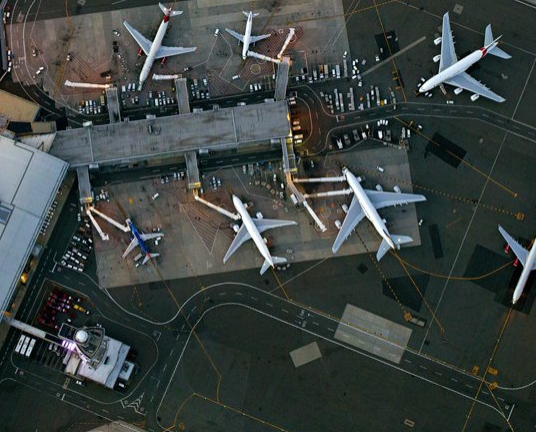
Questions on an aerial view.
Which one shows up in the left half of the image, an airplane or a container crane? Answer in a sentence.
Visible in the left half of the image is an airplane.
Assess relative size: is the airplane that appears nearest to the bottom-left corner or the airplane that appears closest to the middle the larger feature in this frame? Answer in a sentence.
The airplane that appears nearest to the bottom-left corner is smaller than the airplane that appears closest to the middle.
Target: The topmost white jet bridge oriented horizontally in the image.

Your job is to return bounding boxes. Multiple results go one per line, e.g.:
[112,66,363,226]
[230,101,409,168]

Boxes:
[246,51,282,65]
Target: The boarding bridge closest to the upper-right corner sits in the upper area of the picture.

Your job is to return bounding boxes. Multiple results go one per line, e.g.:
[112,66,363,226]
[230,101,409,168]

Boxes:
[277,27,295,61]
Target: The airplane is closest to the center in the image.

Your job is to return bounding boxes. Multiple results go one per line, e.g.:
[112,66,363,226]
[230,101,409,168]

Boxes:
[224,195,297,274]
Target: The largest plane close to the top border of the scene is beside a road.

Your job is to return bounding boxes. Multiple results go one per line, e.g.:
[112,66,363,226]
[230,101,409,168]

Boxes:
[419,16,512,104]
